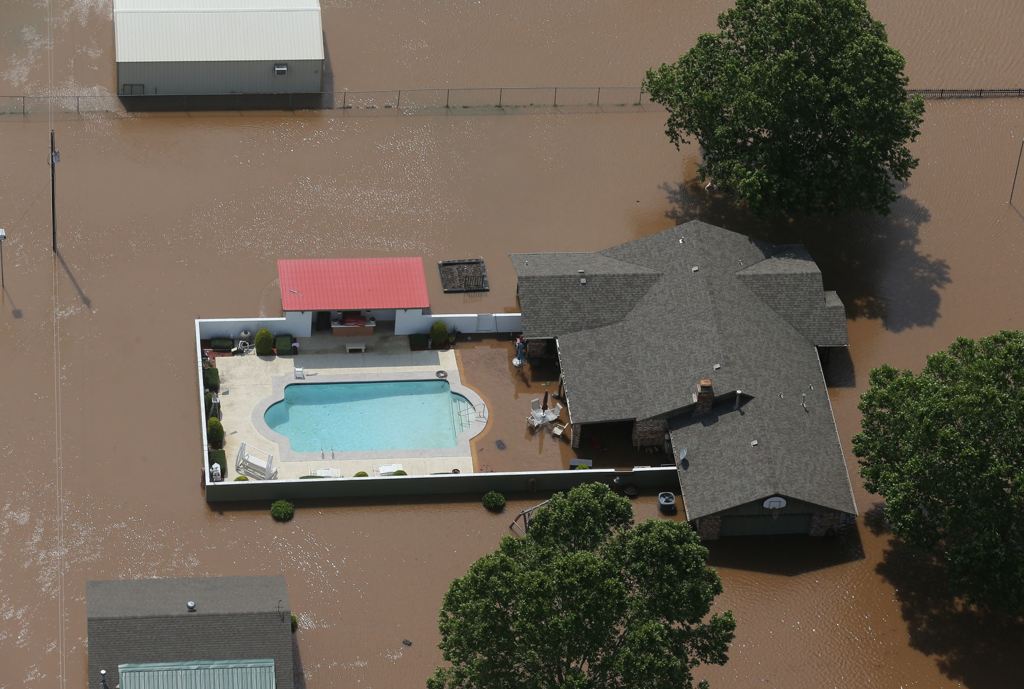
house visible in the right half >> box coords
[509,221,859,540]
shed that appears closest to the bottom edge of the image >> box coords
[87,575,294,689]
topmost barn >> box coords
[113,0,325,94]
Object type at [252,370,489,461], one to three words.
swimming pool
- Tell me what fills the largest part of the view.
water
